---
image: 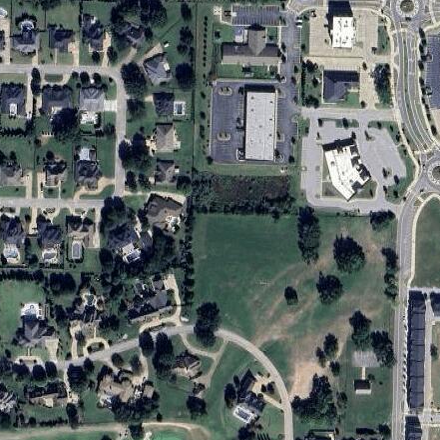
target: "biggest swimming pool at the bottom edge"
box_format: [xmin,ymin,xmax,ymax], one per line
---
[232,405,254,424]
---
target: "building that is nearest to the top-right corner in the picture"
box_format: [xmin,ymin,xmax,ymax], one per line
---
[334,18,354,49]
